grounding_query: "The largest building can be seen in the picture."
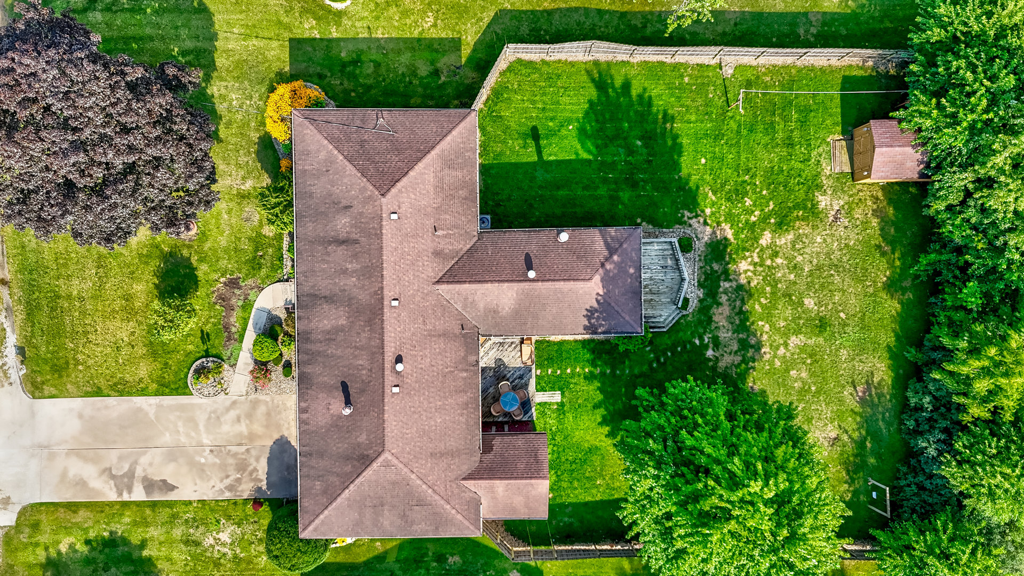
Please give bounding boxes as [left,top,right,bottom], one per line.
[291,107,645,540]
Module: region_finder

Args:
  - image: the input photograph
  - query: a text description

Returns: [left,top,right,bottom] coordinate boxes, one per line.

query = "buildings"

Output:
[291,107,645,540]
[853,121,943,181]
